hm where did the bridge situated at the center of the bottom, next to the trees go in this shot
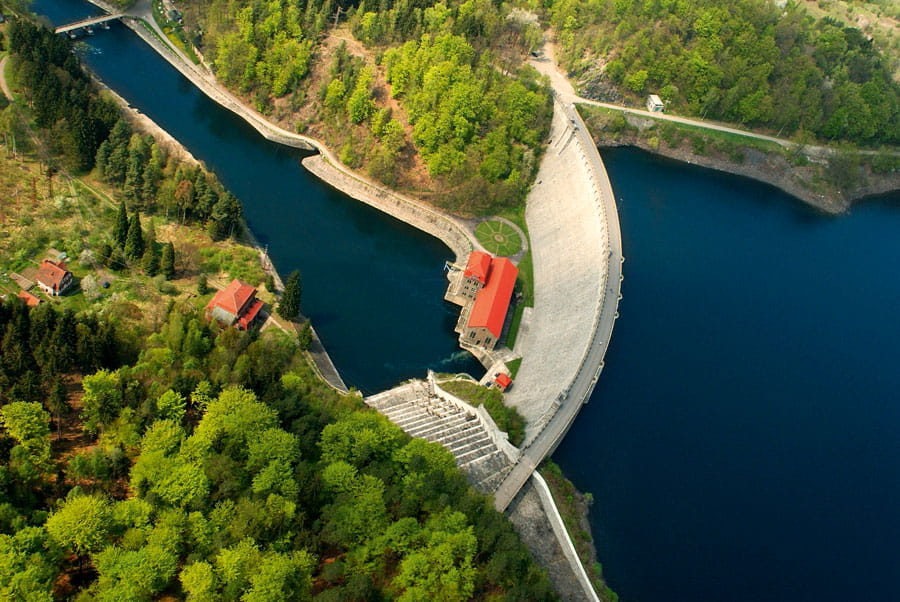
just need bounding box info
[485,453,535,519]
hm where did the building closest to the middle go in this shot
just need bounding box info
[450,249,519,351]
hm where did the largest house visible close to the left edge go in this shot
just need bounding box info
[34,262,77,296]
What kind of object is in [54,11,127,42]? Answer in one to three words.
bridge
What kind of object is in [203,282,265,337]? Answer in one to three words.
house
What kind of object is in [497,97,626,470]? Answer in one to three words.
dam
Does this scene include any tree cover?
Yes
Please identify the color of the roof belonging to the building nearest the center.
red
